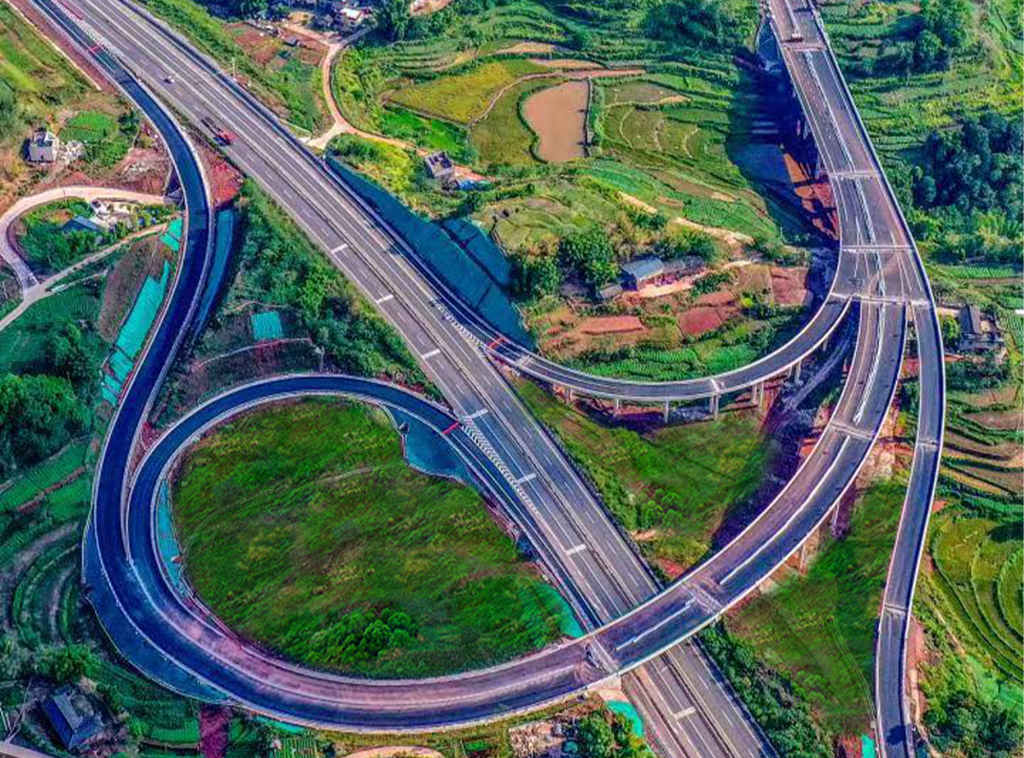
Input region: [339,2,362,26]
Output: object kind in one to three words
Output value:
house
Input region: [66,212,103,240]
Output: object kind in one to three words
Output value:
house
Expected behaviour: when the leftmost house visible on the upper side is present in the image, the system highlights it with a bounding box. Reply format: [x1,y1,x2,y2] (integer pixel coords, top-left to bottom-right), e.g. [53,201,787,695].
[27,133,56,158]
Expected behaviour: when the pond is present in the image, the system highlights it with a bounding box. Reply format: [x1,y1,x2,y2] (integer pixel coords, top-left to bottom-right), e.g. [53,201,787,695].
[523,80,589,161]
